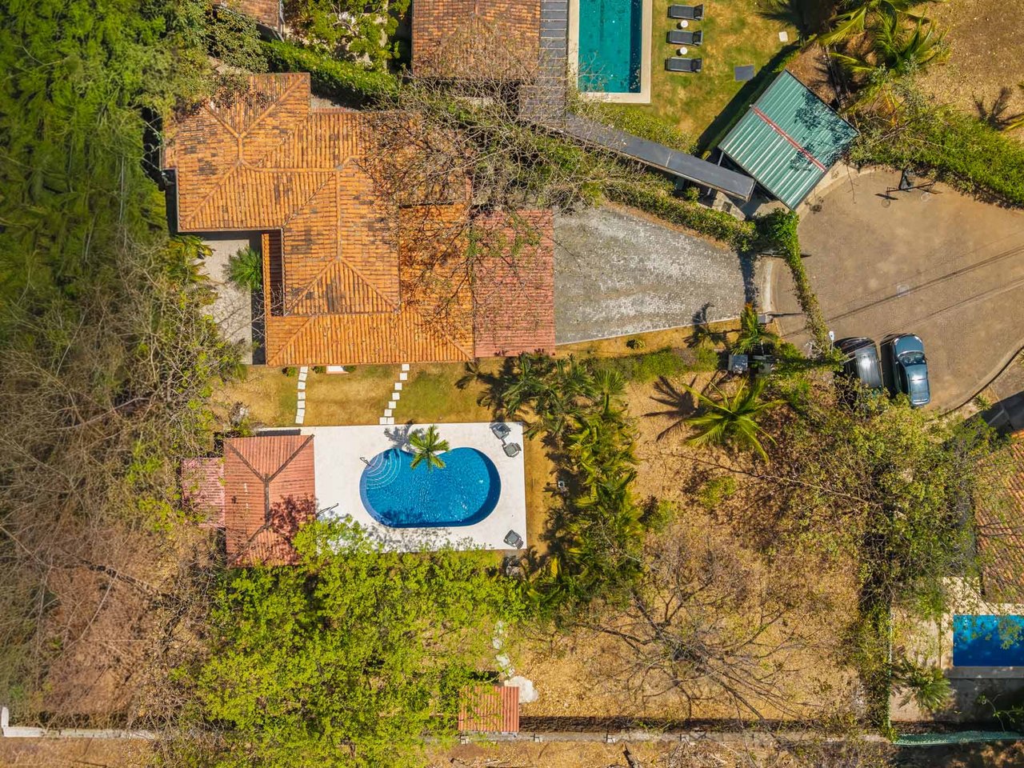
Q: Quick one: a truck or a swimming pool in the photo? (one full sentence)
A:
There is a swimming pool in the scene.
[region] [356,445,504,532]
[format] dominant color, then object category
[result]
blue swimming pool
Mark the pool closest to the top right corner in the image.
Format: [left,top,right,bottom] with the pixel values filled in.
[569,0,651,103]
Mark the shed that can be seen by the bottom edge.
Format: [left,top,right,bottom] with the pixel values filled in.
[461,678,519,732]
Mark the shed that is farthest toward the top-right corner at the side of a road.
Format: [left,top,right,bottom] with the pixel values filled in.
[714,69,859,211]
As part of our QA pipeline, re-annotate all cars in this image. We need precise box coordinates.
[835,328,884,405]
[888,334,932,407]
